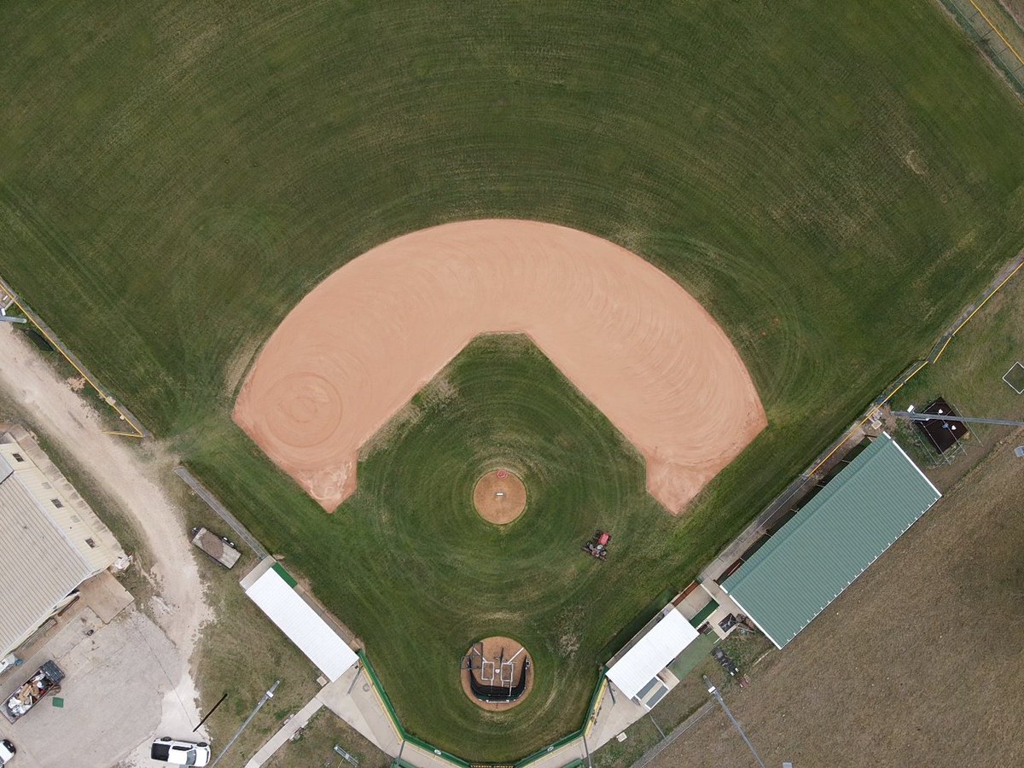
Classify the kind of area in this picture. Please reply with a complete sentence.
This image shows a sports ground.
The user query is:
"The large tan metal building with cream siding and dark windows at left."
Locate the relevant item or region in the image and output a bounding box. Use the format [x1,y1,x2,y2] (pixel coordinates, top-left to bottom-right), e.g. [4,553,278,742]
[0,423,126,660]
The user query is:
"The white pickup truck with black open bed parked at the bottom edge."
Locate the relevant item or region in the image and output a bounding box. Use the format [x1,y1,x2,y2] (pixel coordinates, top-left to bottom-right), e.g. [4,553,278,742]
[149,737,213,768]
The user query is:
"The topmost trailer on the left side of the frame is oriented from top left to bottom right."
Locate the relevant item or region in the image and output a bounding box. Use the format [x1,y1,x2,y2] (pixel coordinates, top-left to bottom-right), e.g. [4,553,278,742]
[185,527,239,571]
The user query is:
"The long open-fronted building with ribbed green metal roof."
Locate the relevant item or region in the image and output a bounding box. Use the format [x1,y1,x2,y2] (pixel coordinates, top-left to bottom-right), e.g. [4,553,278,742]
[712,430,942,649]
